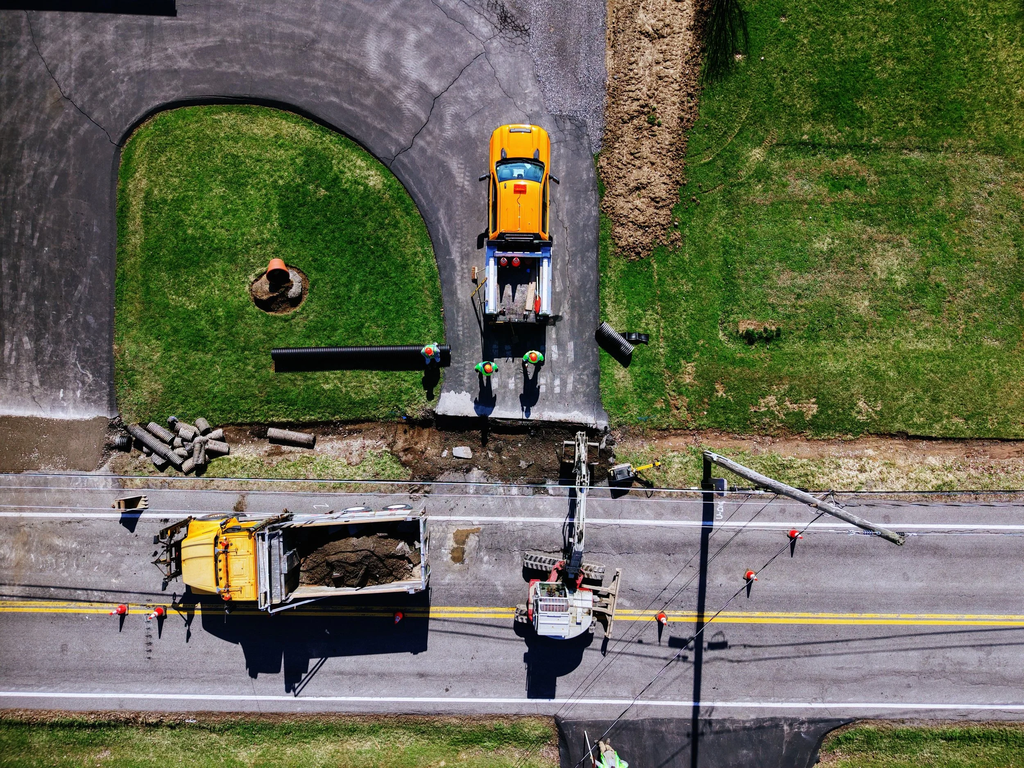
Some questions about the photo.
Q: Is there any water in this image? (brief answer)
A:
No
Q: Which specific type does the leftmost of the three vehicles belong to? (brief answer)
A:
truck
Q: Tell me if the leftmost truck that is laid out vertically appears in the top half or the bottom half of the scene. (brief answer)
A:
top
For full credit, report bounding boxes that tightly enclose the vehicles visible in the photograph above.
[149,501,435,620]
[478,121,561,327]
[513,429,627,641]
